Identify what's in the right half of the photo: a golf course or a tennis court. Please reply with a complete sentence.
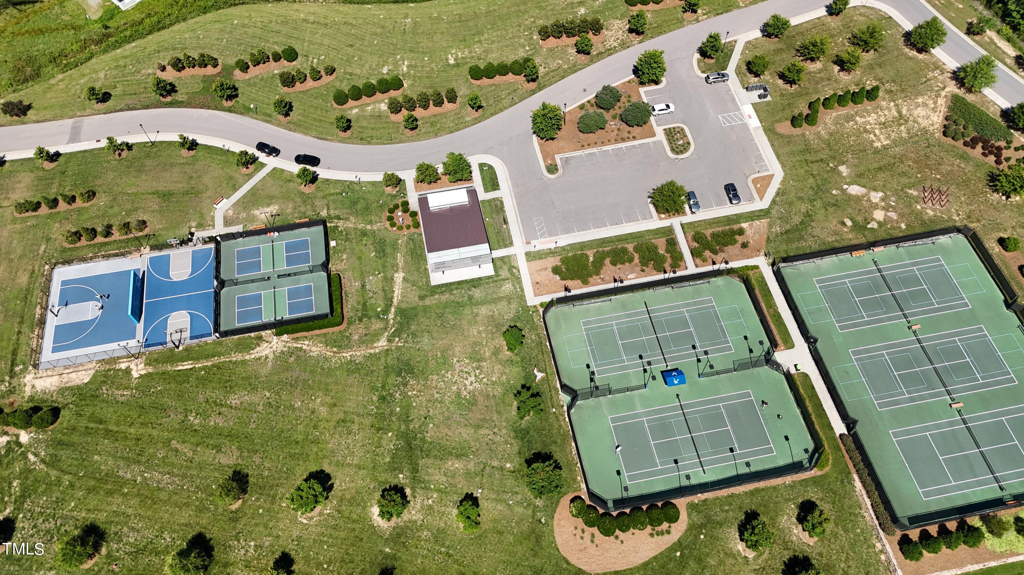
It is a tennis court that can be seen in the right half of the photo.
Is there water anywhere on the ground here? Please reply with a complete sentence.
No, there's no water in this view.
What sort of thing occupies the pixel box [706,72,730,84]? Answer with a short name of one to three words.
vehicle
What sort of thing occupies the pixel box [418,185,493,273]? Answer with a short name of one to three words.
building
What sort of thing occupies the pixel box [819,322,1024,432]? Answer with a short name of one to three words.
tennis court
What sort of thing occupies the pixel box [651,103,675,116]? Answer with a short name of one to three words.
vehicle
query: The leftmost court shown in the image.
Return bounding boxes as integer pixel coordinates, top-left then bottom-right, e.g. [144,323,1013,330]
[39,257,141,370]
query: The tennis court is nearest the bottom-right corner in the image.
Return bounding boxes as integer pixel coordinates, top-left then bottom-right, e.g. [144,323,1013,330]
[861,405,1024,517]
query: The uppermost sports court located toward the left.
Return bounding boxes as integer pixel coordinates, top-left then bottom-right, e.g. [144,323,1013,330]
[220,226,326,284]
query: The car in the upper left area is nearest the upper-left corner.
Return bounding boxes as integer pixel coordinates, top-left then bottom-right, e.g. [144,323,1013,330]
[256,142,279,157]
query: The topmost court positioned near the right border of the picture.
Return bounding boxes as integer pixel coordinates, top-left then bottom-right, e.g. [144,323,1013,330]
[781,234,1020,348]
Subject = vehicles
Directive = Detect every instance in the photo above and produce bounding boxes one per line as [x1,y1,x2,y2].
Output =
[687,187,701,210]
[706,72,730,84]
[651,103,675,116]
[256,142,279,157]
[295,154,319,167]
[724,181,741,204]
